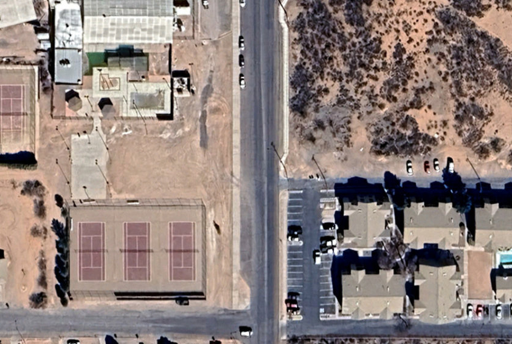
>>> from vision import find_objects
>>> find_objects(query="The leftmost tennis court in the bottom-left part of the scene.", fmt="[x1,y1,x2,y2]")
[75,222,106,282]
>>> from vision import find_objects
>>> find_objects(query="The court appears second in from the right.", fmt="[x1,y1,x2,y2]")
[166,222,200,282]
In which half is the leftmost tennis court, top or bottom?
top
